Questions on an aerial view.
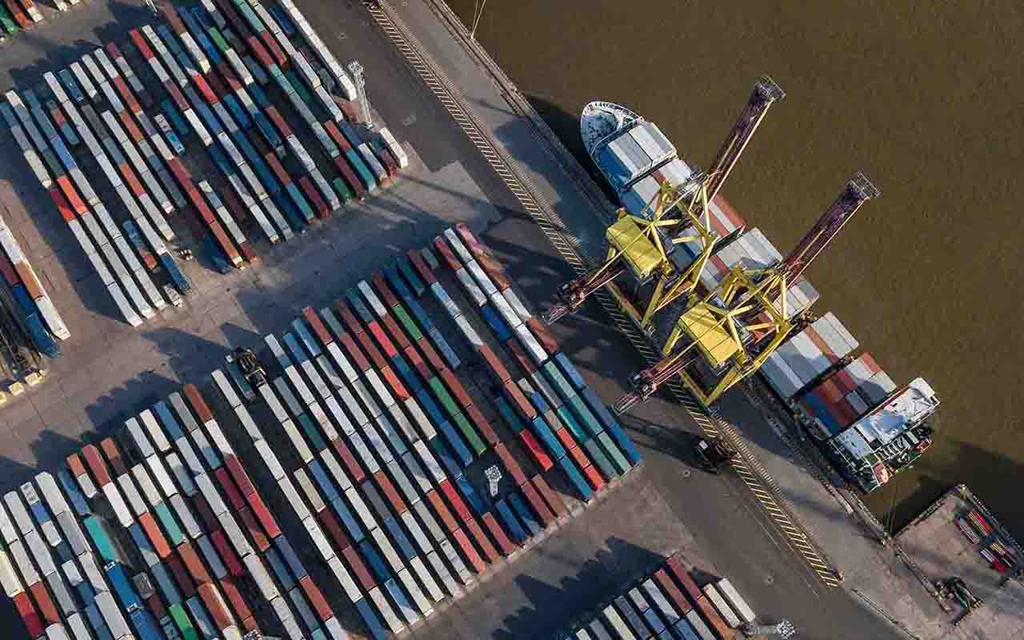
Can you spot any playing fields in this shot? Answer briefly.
No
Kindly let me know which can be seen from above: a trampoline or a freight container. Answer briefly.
freight container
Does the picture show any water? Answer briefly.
Yes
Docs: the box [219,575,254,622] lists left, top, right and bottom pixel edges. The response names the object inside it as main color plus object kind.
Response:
red shipping container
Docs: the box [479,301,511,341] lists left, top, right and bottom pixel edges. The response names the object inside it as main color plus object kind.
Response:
blue shipping container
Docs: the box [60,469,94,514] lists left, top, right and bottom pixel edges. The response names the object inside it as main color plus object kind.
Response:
blue shipping container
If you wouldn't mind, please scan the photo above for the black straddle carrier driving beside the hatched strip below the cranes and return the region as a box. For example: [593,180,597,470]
[691,430,744,479]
